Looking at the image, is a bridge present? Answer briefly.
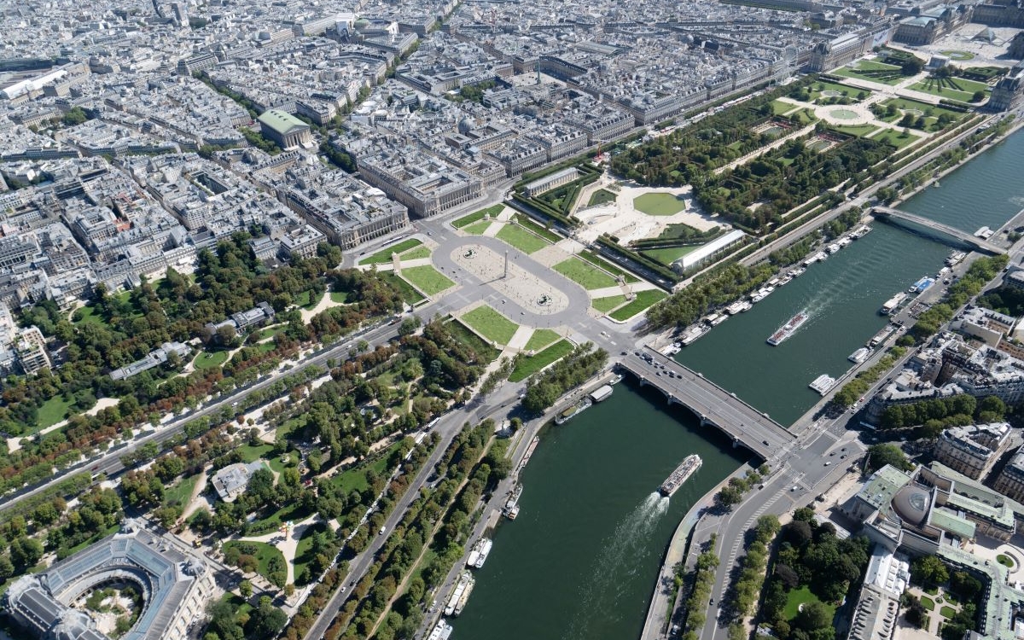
Yes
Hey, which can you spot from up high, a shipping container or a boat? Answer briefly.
boat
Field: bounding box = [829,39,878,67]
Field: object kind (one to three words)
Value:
building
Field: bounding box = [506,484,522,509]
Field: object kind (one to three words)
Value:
boat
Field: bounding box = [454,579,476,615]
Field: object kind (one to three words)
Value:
boat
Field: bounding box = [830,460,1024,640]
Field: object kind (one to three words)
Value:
building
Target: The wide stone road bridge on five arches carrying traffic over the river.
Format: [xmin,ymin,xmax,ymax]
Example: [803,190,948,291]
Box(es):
[615,343,800,465]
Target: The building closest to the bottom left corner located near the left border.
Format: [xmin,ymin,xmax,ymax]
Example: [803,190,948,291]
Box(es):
[9,520,213,640]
